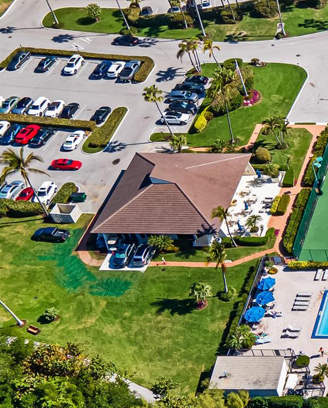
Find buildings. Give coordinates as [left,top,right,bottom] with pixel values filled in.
[91,152,273,252]
[207,355,291,400]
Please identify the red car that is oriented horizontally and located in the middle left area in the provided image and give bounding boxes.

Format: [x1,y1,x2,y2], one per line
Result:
[51,159,84,172]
